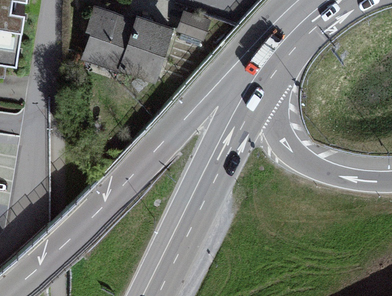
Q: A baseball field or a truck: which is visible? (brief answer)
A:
truck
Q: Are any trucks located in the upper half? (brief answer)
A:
Yes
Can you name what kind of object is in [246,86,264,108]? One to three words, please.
vehicle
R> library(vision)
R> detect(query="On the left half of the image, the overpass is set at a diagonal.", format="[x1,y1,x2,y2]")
[0,0,284,296]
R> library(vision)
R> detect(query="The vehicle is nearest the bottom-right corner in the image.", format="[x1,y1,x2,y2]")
[225,152,240,174]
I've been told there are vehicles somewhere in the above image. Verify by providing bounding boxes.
[356,0,378,10]
[320,2,342,20]
[210,30,225,46]
[225,152,240,174]
[242,30,282,74]
[246,86,264,108]
[0,182,7,191]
